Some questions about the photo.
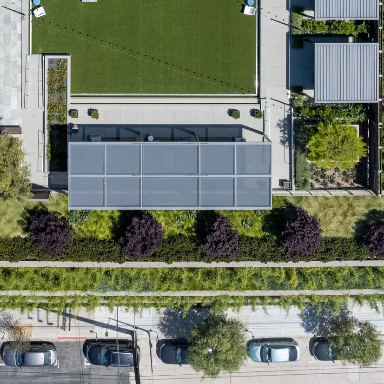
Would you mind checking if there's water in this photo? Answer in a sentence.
No, there is no water in the image.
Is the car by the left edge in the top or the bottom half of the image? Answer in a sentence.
The bottom half of the photo is where the car by the left edge is.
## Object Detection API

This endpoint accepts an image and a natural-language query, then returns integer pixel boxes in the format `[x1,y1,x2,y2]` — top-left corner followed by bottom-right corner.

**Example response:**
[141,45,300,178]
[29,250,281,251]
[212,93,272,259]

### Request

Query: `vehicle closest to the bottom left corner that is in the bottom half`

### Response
[0,342,57,373]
